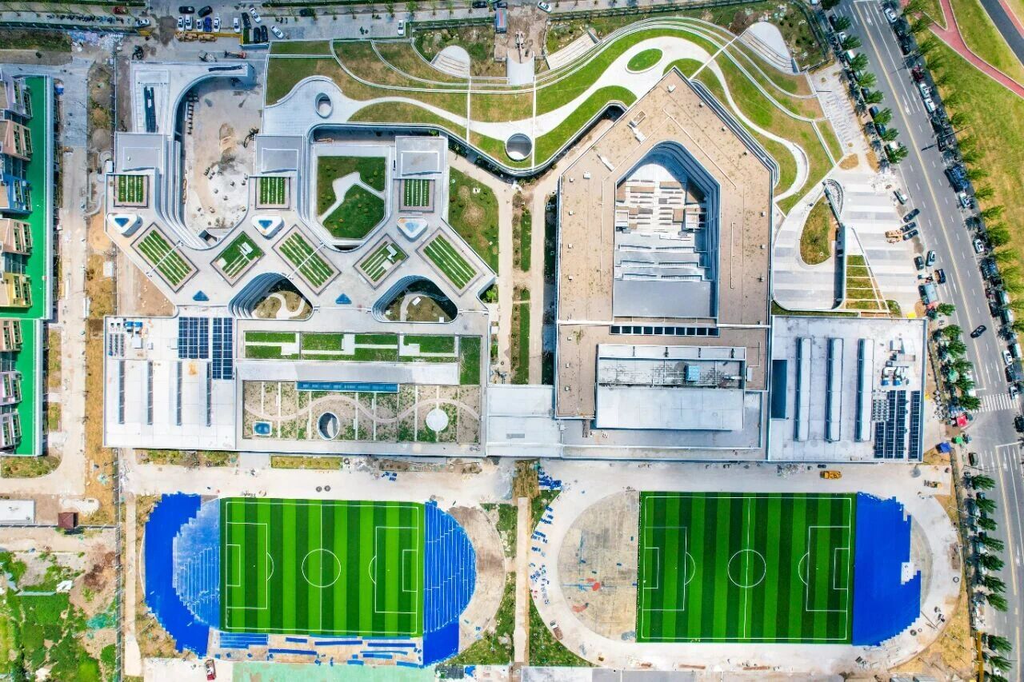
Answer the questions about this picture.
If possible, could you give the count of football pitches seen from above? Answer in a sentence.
The photo contains 2 football pitches.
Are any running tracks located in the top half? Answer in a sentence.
No, no running track is visible in the top half.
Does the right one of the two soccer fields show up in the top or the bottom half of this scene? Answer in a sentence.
The right one of the two soccer fields is in the bottom half of the image.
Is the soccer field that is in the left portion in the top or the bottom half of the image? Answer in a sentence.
The soccer field that is in the left portion sits in the bottom half of the picture.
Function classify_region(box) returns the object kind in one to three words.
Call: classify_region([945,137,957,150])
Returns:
vehicle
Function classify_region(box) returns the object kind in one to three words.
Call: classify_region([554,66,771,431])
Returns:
building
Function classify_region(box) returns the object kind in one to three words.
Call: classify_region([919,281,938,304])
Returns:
vehicle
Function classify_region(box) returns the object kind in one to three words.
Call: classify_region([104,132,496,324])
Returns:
building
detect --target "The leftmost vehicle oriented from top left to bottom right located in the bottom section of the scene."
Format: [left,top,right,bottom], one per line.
[549,622,564,641]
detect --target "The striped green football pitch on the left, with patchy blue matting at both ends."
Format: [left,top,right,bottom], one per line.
[220,497,424,638]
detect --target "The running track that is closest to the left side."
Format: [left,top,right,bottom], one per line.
[138,489,508,666]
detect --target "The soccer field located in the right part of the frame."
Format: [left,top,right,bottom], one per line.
[637,492,856,645]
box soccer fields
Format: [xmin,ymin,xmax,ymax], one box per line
[637,492,856,645]
[220,497,424,638]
